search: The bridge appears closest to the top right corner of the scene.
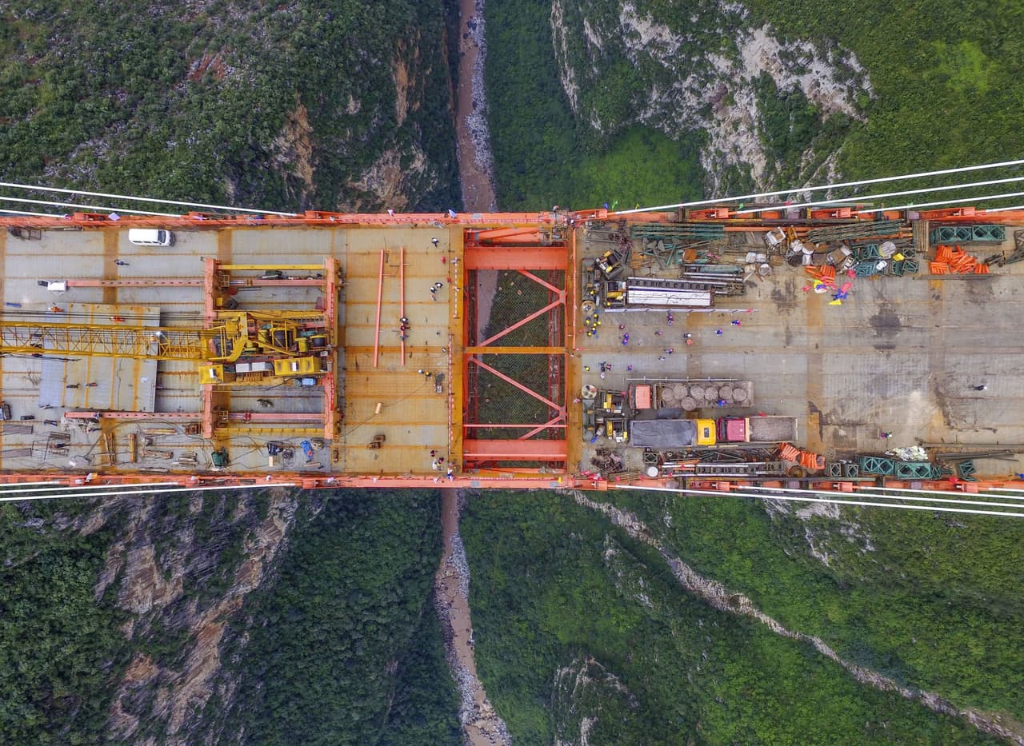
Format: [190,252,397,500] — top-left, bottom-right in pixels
[571,200,1024,499]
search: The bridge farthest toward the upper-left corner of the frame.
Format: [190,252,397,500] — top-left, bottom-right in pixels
[0,210,464,489]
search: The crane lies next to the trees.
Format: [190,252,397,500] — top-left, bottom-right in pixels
[0,256,344,442]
